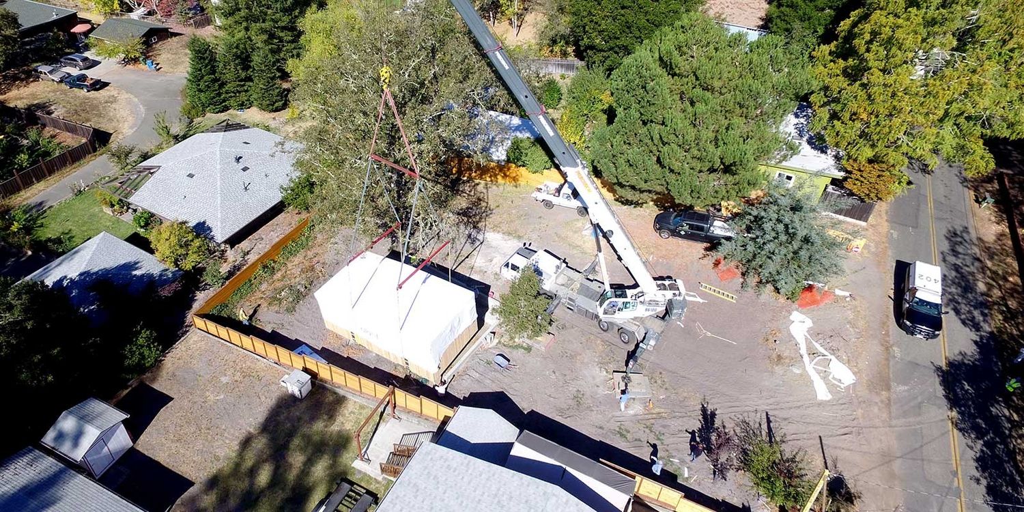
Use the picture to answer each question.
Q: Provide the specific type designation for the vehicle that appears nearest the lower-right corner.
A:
truck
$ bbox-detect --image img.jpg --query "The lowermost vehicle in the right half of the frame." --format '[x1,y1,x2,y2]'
[897,261,947,342]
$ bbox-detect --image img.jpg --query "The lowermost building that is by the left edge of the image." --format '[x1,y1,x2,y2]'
[0,447,136,512]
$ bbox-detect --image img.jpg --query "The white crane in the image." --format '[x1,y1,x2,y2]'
[444,0,709,382]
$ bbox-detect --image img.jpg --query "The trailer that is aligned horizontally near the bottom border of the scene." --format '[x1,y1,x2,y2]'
[294,473,380,512]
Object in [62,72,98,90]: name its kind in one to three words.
vehicle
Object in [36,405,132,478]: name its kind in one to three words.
shed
